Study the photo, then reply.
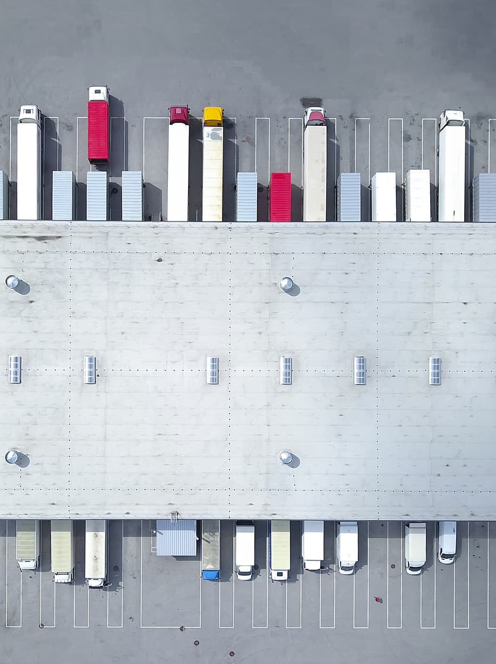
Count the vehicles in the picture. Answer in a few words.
16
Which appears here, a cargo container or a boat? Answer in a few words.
cargo container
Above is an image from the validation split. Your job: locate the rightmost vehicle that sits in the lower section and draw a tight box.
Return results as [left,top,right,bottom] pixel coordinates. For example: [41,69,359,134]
[434,523,456,563]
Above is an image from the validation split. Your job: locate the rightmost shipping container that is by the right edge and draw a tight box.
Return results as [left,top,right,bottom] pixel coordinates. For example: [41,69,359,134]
[468,173,496,222]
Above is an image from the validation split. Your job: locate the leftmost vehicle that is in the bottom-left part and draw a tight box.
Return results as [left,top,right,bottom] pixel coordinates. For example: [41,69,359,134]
[16,521,41,573]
